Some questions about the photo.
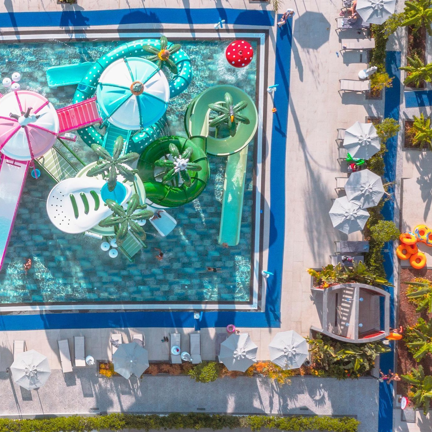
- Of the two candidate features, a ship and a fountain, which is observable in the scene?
fountain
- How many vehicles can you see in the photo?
0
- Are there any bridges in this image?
Yes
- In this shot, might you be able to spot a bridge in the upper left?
Yes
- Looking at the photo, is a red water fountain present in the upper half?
Yes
